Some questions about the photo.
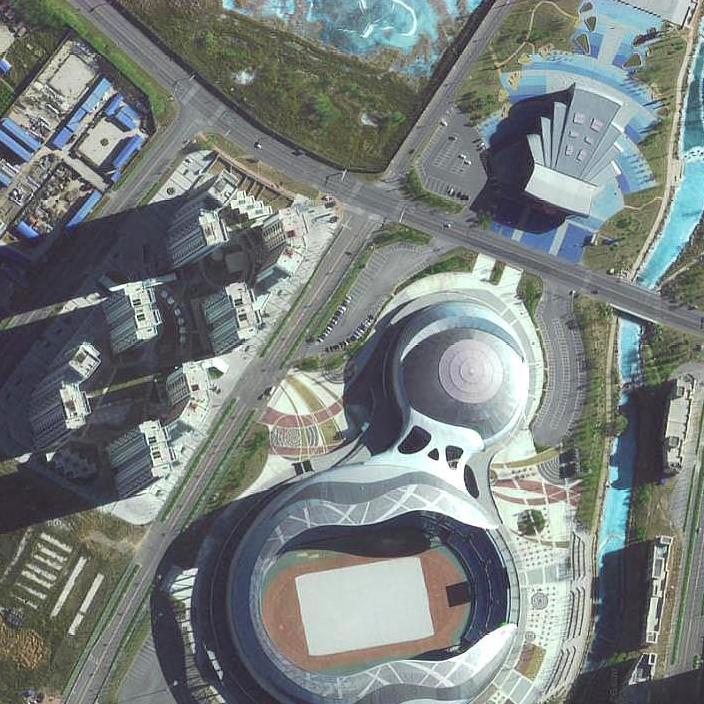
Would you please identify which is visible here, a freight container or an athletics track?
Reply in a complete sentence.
This aerial view contains an athletics track.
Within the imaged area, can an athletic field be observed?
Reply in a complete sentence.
Yes, you can see an athletic field in this photo.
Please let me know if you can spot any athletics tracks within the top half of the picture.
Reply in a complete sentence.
No, within the top half of the picture there is no athletics track.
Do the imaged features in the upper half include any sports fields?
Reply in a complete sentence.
No, I see no sports field in the upper half.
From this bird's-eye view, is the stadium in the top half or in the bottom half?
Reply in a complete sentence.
You can find the stadium in the bottom half.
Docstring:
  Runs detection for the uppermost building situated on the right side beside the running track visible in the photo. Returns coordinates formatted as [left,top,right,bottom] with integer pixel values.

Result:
[338,302,535,532]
